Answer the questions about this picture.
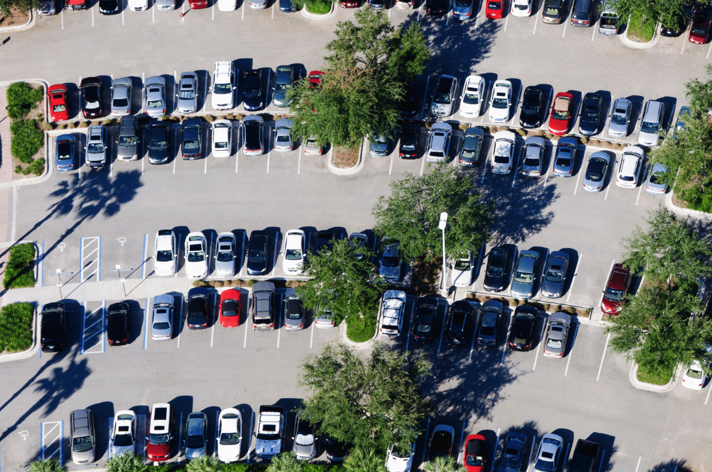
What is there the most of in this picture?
paved ground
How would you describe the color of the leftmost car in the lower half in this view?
black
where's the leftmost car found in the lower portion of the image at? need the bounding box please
[39,305,67,356]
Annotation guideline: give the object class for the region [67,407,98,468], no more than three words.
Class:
car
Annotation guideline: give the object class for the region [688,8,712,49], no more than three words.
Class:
car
